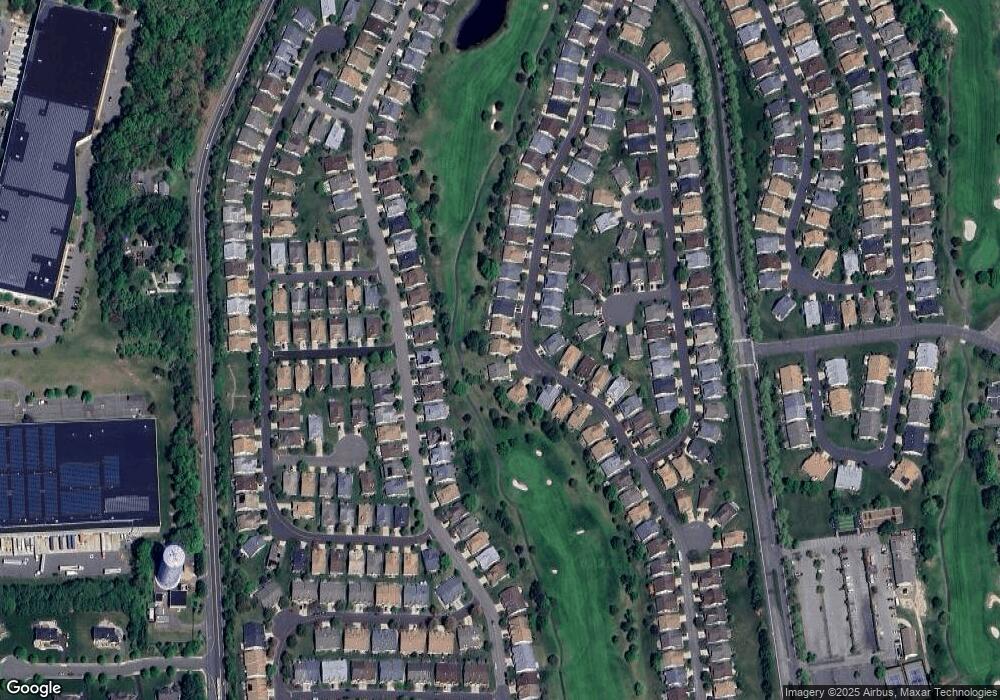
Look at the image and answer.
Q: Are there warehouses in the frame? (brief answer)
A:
Yes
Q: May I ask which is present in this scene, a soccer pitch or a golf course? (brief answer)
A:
golf course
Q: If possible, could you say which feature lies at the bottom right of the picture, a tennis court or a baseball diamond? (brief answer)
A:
tennis court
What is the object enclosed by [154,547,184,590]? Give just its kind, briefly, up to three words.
water tower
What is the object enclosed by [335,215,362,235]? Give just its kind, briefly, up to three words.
house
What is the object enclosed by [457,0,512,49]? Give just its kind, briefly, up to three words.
pond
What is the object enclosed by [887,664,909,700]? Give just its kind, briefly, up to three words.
tennis court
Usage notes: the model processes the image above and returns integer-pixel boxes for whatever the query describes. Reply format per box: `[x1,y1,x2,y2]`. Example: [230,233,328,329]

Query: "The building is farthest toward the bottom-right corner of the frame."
[900,628,917,660]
